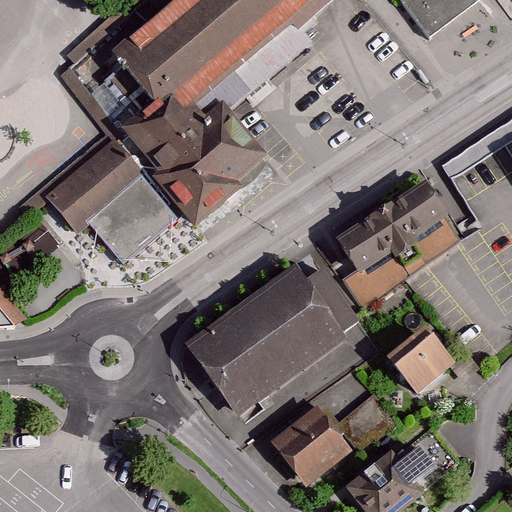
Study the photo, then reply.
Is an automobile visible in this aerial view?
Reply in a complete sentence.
Yes, there's an automobile here.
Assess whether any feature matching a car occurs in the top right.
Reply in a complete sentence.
Yes, I can see a car in the top right.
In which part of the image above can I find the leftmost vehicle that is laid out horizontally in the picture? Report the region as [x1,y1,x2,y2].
[15,435,42,448]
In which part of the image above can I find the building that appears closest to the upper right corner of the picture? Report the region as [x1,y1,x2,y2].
[400,0,480,41]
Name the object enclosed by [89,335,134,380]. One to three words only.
roundabout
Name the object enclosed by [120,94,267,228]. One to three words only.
house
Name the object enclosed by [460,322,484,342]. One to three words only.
vehicle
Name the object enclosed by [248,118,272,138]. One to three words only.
car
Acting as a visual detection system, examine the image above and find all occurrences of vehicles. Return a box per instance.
[294,90,320,112]
[15,435,42,448]
[144,486,162,512]
[0,428,11,452]
[466,170,480,186]
[248,118,272,138]
[347,11,373,32]
[353,110,376,128]
[307,65,330,84]
[340,100,366,121]
[490,234,512,253]
[136,478,152,502]
[366,32,390,51]
[60,464,72,490]
[124,472,140,495]
[474,160,498,184]
[309,111,332,130]
[460,502,479,512]
[155,495,171,512]
[116,460,133,484]
[376,40,399,60]
[240,109,262,128]
[390,60,414,80]
[330,92,356,113]
[106,450,124,474]
[460,322,484,342]
[318,73,341,92]
[328,130,350,148]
